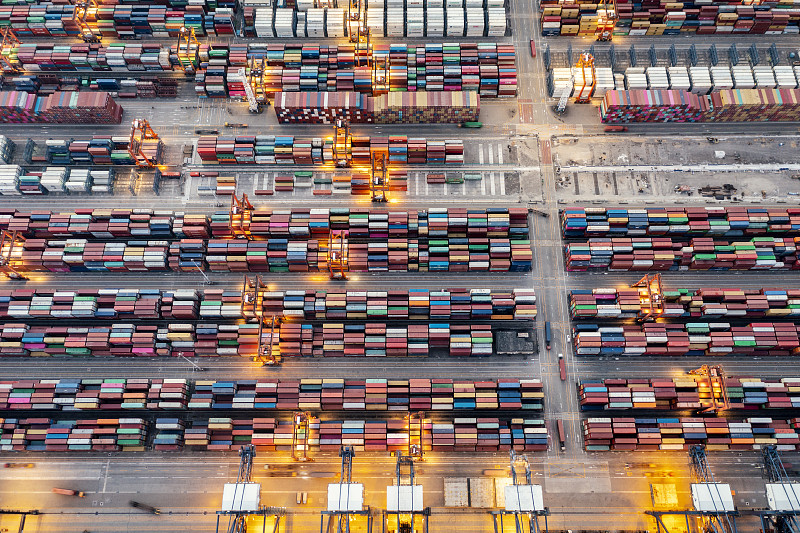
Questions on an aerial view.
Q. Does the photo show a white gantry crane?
Yes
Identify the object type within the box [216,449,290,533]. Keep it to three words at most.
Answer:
container crane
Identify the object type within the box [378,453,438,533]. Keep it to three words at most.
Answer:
container crane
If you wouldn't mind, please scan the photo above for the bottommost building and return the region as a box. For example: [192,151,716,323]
[493,334,532,358]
